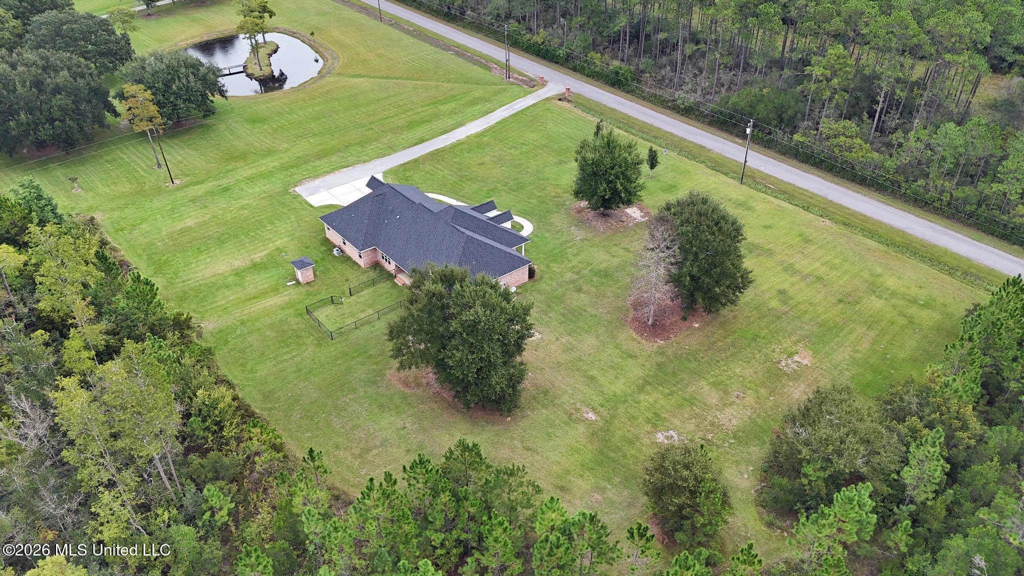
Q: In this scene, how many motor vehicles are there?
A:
0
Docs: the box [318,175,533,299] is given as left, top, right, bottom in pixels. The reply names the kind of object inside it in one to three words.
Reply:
house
